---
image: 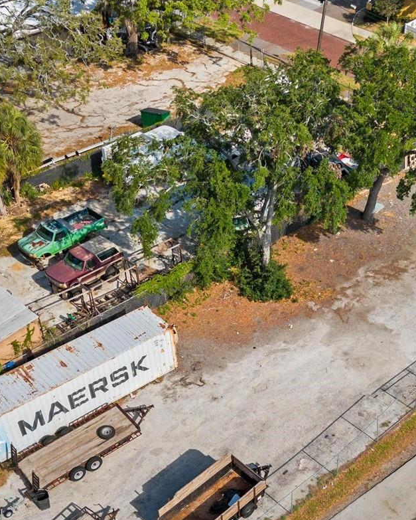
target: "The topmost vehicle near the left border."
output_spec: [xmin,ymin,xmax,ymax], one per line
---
[20,209,107,267]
